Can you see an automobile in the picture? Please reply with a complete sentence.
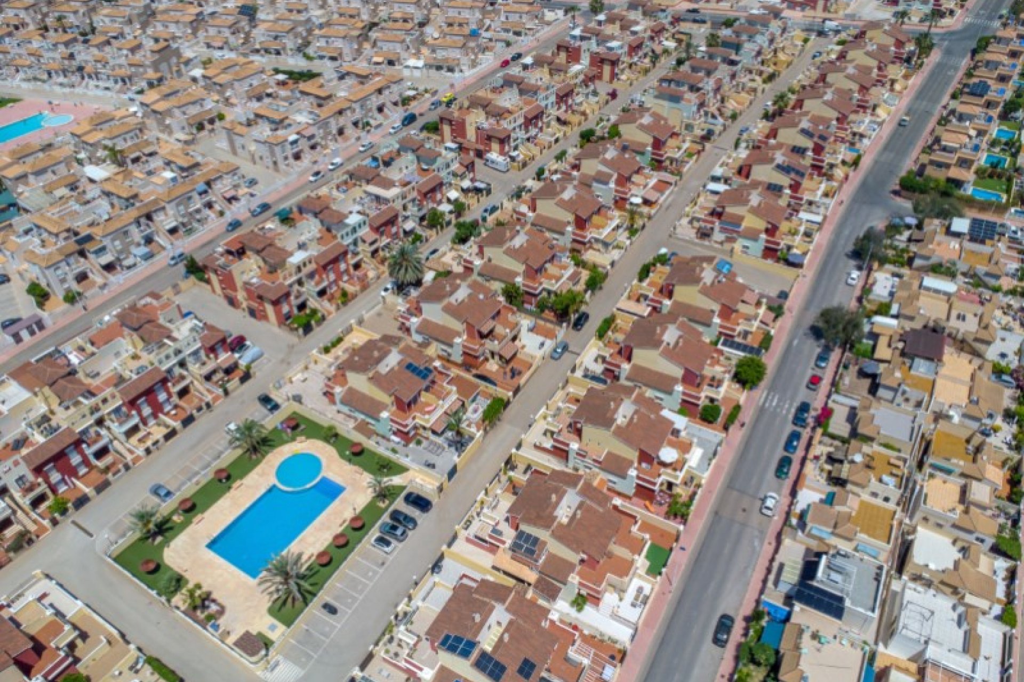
Yes, the photo shows an automobile.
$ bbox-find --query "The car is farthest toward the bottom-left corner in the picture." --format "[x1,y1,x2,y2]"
[150,485,173,502]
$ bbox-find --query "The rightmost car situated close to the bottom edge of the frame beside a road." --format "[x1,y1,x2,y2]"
[711,613,734,649]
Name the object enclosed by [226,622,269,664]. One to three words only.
shed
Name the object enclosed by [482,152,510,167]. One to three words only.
camper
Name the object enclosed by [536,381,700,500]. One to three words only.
house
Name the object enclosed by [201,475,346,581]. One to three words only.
swimming pool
